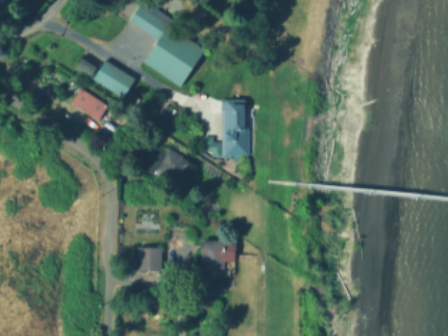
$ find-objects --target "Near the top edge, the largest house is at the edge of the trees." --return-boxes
[130,6,204,86]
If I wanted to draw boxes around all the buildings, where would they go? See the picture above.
[76,57,98,77]
[72,90,108,122]
[94,60,134,97]
[206,99,251,162]
[130,6,204,86]
[150,144,196,184]
[137,248,163,272]
[202,242,236,272]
